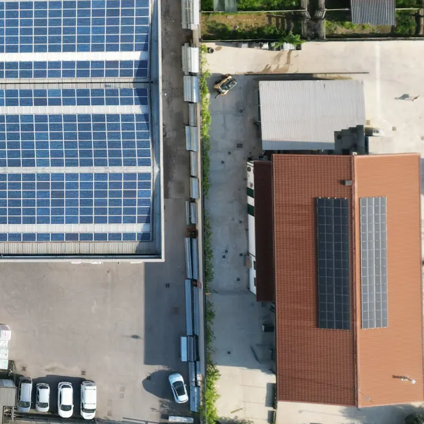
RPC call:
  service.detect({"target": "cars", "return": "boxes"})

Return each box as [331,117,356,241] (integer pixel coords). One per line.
[80,380,97,418]
[35,381,51,412]
[17,376,34,412]
[167,369,189,405]
[58,380,74,417]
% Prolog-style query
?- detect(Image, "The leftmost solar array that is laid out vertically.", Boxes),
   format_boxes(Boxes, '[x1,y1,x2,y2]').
[317,200,353,329]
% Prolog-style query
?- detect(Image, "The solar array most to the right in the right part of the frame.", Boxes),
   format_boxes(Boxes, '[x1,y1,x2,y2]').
[360,200,388,329]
